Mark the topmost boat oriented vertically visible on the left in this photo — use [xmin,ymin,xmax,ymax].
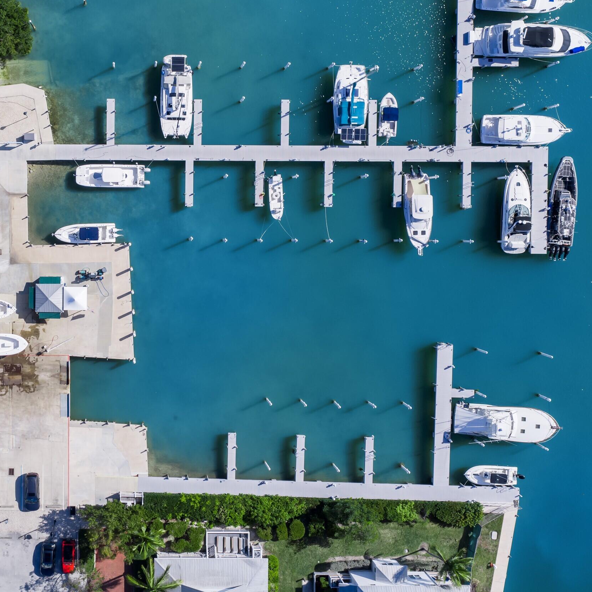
[159,57,194,140]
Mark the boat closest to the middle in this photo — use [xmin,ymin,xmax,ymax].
[267,171,286,220]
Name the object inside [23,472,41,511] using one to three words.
car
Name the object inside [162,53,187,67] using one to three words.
boat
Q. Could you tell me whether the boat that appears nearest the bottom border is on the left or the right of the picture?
right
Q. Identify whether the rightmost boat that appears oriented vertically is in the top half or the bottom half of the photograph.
top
